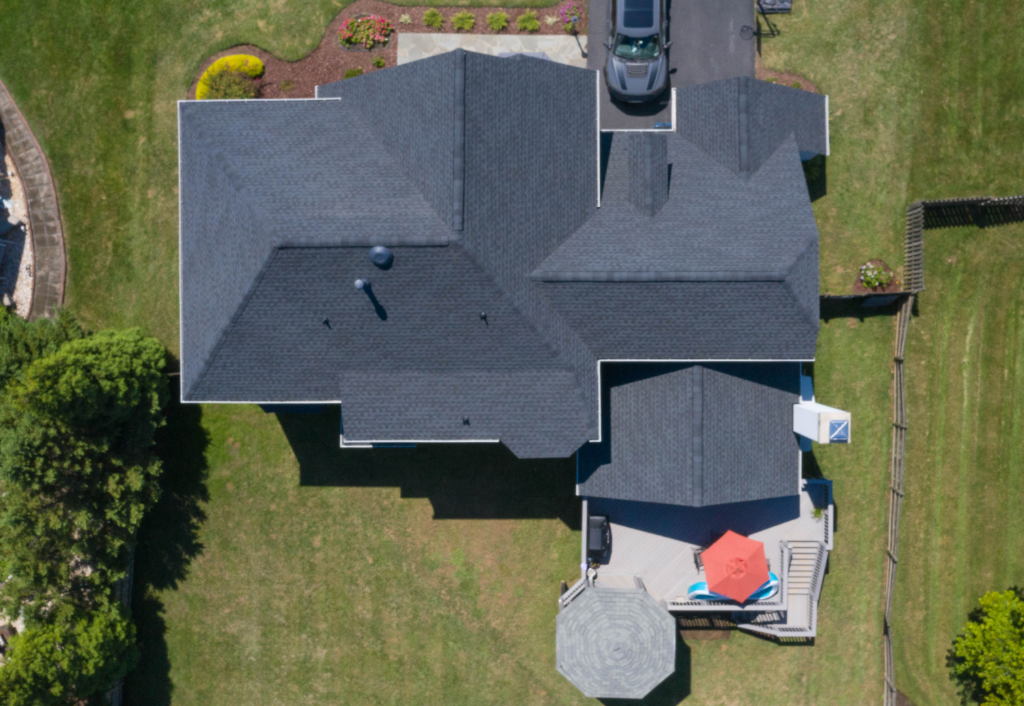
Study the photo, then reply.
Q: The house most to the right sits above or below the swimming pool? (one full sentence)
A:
It's above the swimming pool that the house most to the right shows up.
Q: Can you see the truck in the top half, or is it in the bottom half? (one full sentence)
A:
It is in the top half that the truck appears.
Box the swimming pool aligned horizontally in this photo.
[685,570,782,603]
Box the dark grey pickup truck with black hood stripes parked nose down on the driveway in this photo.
[600,0,676,109]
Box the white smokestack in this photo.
[794,374,852,450]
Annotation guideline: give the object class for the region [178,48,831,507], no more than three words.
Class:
house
